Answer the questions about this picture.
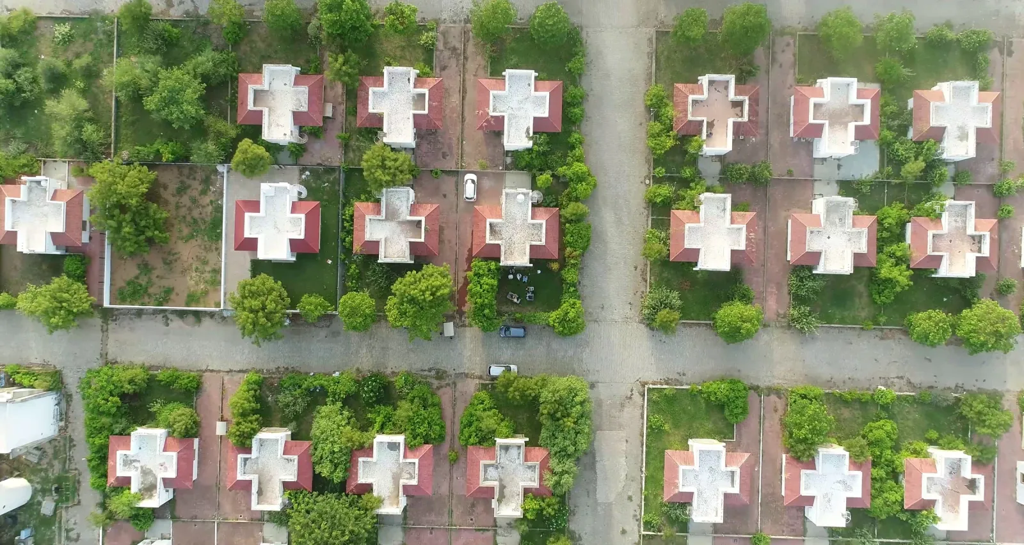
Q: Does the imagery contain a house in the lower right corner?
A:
Yes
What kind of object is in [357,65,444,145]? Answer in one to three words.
house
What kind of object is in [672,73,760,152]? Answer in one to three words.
house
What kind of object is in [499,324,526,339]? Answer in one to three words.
car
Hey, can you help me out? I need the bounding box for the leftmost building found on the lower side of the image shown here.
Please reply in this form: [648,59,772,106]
[0,383,57,458]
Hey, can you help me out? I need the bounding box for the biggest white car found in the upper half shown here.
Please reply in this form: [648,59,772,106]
[463,174,477,201]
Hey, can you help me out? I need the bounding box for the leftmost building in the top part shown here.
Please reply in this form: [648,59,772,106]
[0,172,92,253]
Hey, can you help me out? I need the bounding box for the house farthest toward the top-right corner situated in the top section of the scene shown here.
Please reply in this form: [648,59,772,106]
[908,79,1000,158]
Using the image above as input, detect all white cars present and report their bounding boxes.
[463,174,477,201]
[487,363,517,376]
